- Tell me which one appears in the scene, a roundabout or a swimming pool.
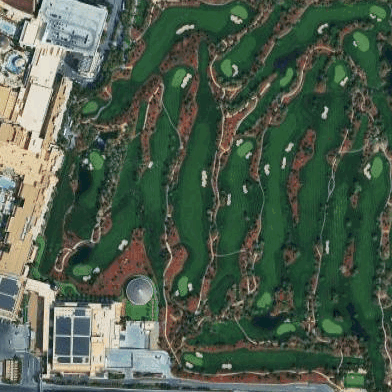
swimming pool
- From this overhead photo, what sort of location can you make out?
golf course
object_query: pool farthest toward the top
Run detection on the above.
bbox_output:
[0,18,16,36]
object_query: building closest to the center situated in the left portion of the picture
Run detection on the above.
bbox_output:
[127,280,153,307]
